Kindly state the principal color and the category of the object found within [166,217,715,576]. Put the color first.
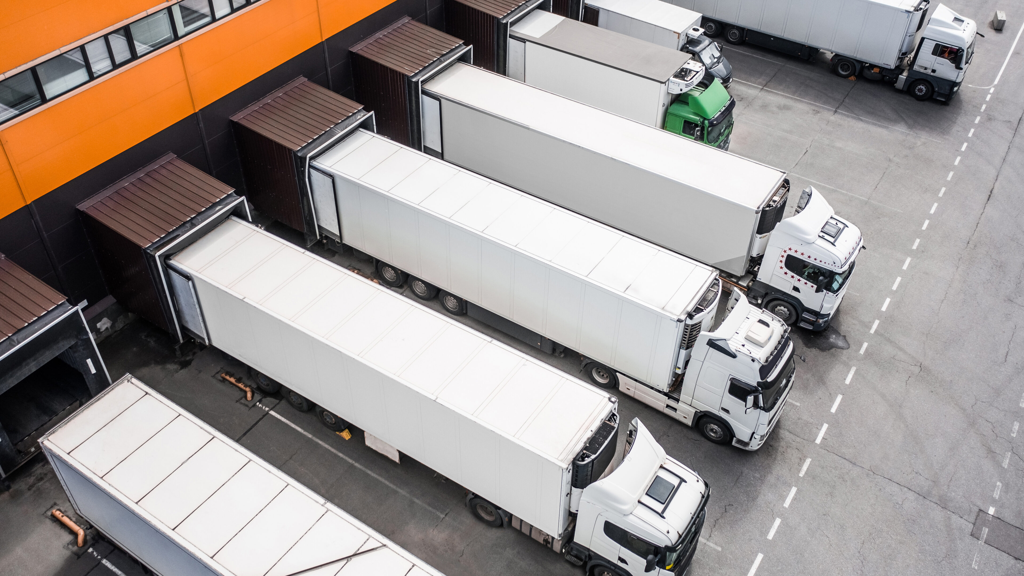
white truck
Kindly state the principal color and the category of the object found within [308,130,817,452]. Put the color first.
white truck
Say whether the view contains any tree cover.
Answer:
No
